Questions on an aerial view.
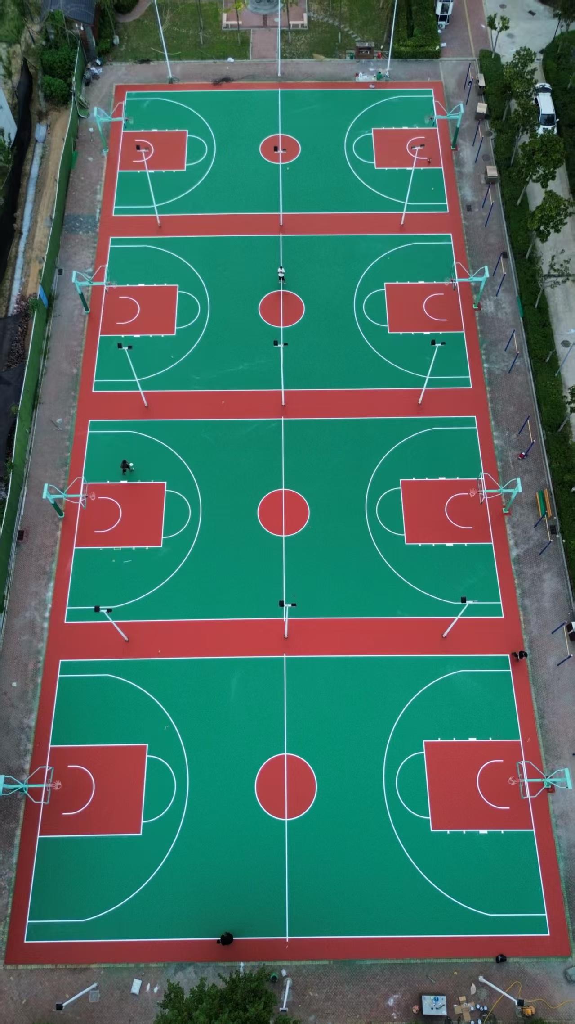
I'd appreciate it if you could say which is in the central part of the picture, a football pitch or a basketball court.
basketball court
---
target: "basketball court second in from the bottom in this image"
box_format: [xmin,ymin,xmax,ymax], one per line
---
[64,415,505,622]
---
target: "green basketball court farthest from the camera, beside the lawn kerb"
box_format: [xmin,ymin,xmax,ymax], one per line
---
[112,89,449,215]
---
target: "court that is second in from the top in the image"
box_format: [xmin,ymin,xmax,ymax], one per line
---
[91,233,473,391]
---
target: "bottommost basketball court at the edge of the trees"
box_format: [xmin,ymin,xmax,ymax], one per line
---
[26,653,549,942]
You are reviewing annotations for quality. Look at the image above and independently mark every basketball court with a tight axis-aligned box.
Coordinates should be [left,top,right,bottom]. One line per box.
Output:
[112,89,449,215]
[64,415,505,622]
[26,653,549,942]
[91,233,473,391]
